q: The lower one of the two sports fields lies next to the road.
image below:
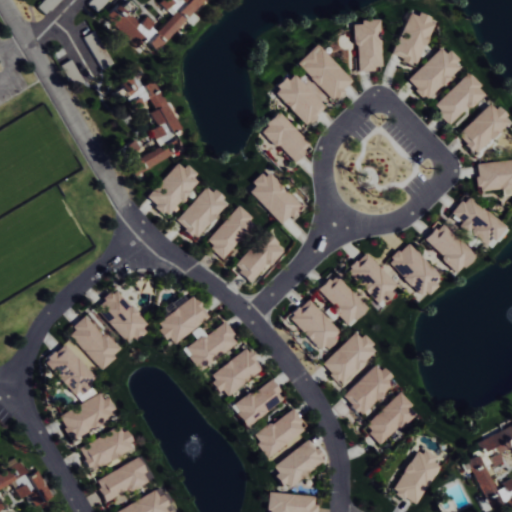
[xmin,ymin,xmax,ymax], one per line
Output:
[0,186,94,303]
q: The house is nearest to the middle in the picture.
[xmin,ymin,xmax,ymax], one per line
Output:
[235,235,288,287]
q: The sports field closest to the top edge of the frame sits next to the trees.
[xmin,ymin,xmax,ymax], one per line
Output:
[0,105,82,216]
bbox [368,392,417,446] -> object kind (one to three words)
house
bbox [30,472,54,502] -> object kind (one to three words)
house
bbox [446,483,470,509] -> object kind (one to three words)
swimming pool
